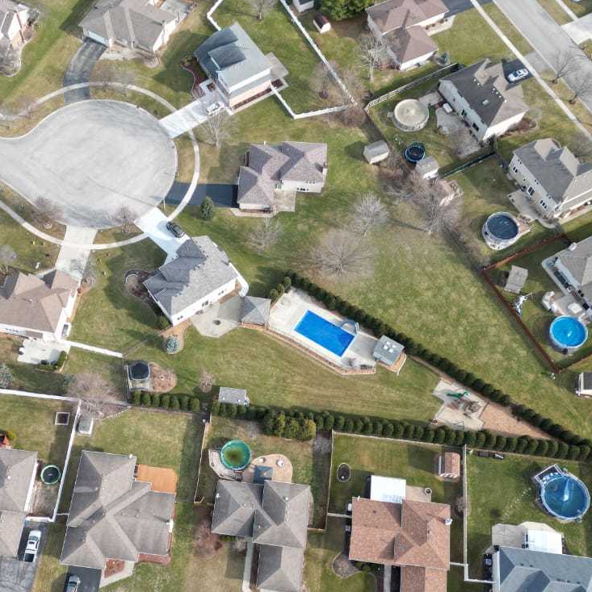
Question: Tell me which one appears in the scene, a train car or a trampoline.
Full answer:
Visible in the photo is a trampoline.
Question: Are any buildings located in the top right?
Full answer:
Yes, there is a building in the top right.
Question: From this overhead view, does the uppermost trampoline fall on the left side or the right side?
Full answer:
It is on the right.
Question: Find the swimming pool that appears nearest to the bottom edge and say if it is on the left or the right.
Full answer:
The swimming pool that appears nearest to the bottom edge appears in the right half of the scene.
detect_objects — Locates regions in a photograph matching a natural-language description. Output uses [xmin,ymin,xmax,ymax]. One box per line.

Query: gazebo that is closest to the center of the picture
[240,294,270,329]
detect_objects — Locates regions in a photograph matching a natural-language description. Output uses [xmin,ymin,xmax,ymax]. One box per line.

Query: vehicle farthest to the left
[22,529,40,564]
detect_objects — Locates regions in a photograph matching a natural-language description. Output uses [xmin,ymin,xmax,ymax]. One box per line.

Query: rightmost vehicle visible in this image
[506,66,531,81]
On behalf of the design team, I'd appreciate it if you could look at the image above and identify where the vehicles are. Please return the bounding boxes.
[203,100,224,114]
[506,66,531,81]
[22,529,40,564]
[64,575,78,592]
[165,218,187,239]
